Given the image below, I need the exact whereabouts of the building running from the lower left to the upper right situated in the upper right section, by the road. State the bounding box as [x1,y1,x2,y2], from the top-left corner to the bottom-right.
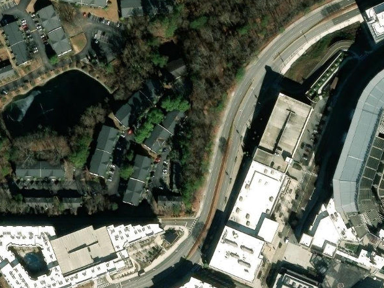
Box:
[306,52,346,100]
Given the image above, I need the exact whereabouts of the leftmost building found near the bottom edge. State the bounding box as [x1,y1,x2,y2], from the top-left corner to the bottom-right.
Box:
[0,225,164,288]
